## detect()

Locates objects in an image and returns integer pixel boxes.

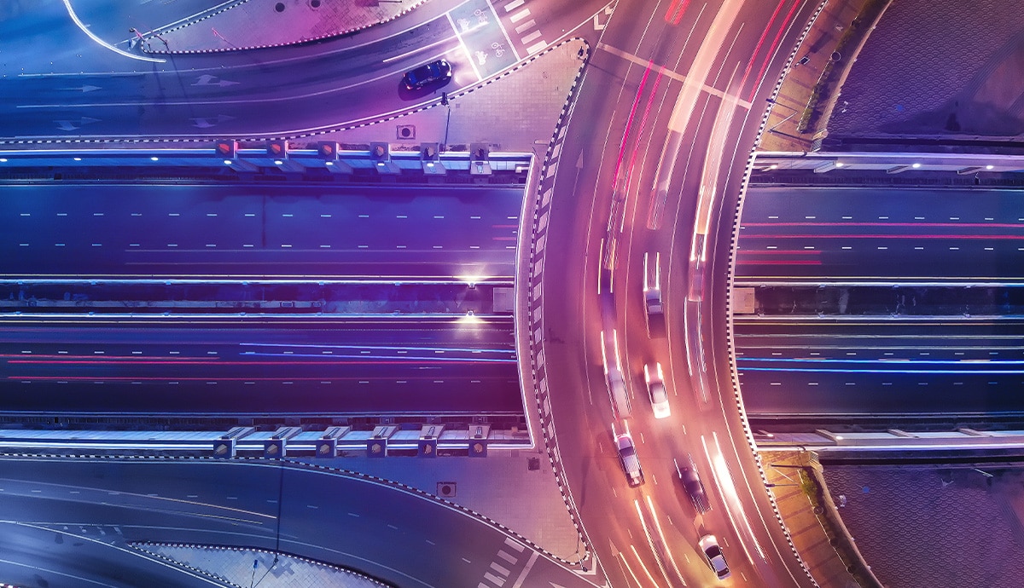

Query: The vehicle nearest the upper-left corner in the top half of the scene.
[399,57,452,89]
